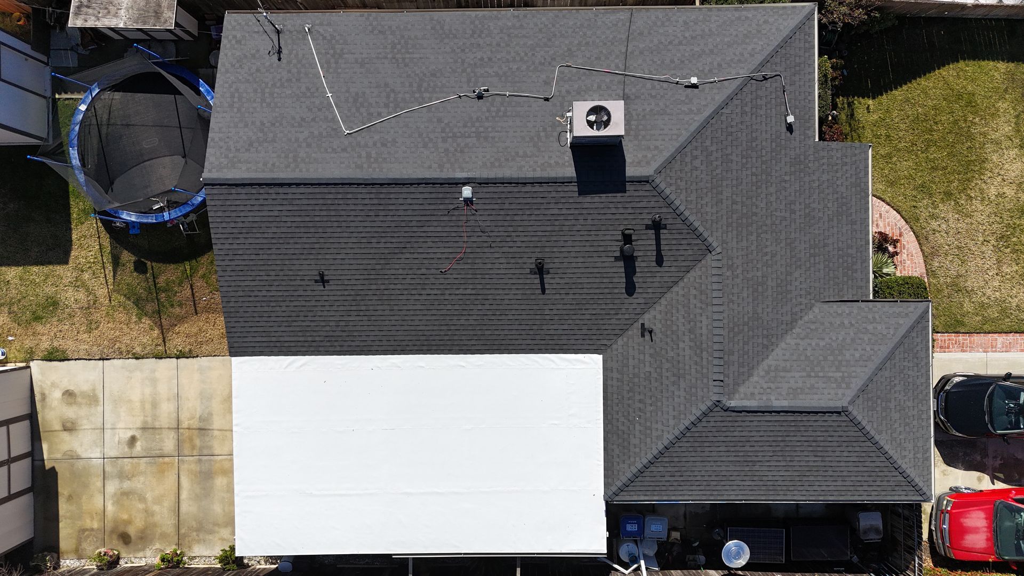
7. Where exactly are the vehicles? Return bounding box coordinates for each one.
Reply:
[924,481,1024,576]
[937,363,1024,448]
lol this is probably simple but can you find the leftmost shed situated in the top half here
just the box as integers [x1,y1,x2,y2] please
[0,34,50,144]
